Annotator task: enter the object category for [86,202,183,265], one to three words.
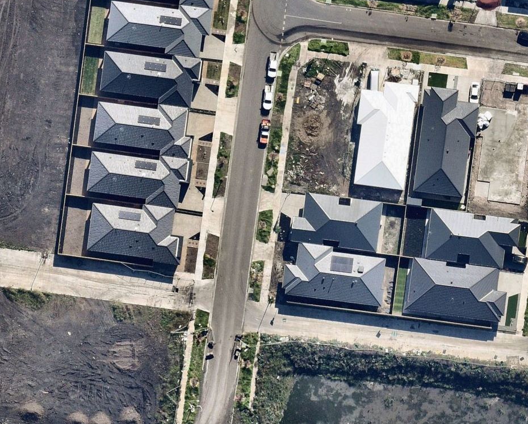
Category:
house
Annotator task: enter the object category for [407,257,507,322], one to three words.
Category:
house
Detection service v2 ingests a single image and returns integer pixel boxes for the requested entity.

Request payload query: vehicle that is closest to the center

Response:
[259,118,271,146]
